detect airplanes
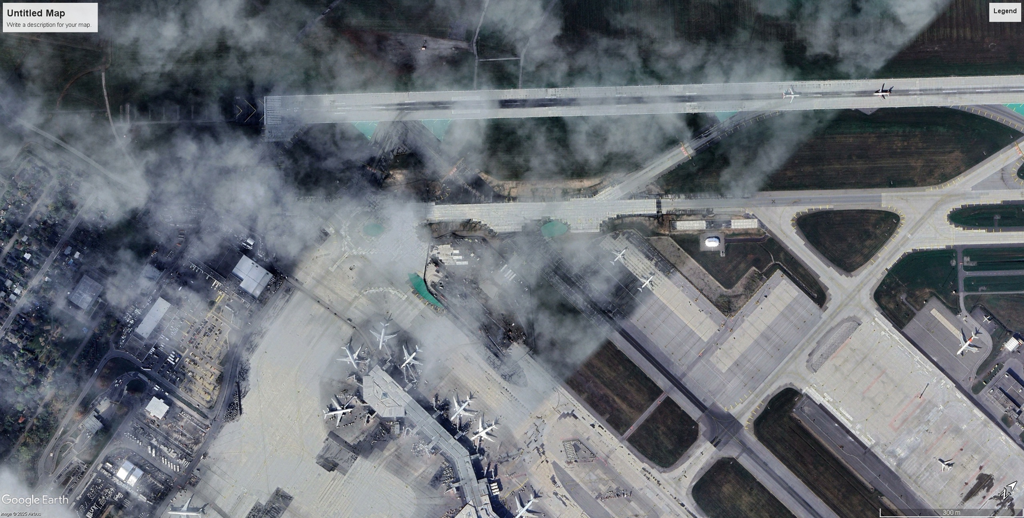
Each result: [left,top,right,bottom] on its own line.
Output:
[167,498,201,518]
[939,460,953,471]
[322,399,353,427]
[609,248,627,265]
[337,343,360,369]
[783,87,800,102]
[451,393,475,421]
[369,321,397,350]
[957,328,981,355]
[636,276,653,292]
[471,417,499,442]
[514,494,539,518]
[401,345,422,368]
[874,84,891,100]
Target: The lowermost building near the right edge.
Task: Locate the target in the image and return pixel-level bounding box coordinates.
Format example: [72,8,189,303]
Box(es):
[988,372,1024,424]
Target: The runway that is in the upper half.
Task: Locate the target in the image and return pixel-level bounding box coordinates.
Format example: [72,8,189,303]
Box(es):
[236,75,1024,124]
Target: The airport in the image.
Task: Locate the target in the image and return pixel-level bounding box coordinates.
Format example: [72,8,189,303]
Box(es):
[168,75,1024,518]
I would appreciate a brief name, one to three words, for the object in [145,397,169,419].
building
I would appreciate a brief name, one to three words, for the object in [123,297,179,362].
building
